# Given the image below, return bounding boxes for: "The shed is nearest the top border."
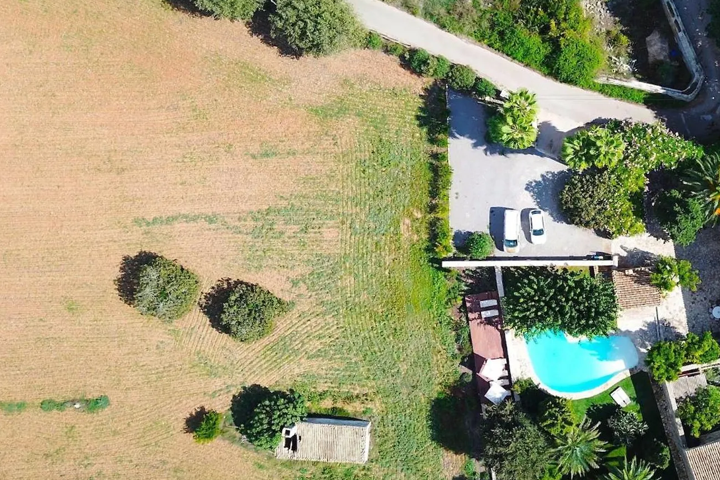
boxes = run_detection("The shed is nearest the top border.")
[612,269,662,309]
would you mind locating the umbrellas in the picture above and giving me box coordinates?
[478,354,508,383]
[485,381,508,405]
